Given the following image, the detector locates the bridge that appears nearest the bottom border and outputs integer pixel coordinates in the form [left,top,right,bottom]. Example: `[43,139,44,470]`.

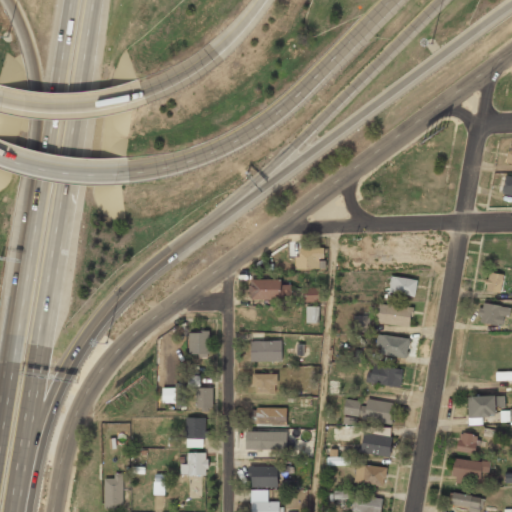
[0,138,129,185]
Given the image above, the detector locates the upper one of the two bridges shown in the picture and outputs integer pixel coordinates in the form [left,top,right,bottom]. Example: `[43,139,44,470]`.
[0,81,142,119]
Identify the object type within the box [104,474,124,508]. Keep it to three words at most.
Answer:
house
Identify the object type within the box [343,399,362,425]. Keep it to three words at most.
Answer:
shed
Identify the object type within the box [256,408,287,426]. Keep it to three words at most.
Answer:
house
